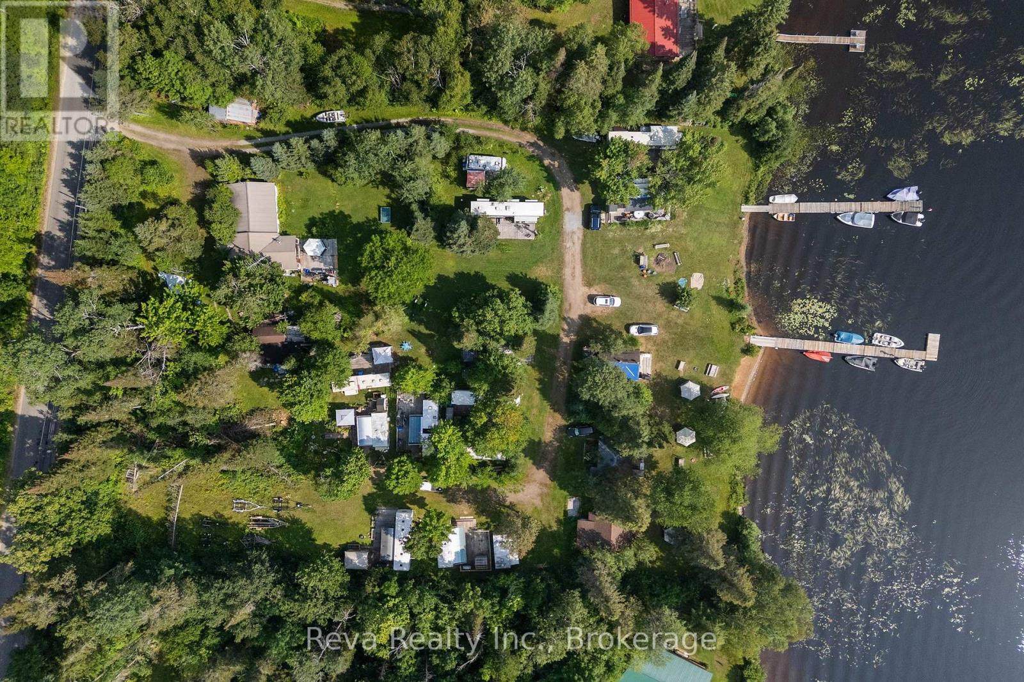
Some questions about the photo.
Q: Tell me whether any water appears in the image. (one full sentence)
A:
Yes, the picture does contain water.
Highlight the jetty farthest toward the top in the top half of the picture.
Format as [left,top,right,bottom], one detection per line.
[778,29,866,52]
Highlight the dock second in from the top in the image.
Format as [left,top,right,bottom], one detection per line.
[742,201,923,214]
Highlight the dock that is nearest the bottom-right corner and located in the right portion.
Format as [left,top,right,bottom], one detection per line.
[749,334,939,362]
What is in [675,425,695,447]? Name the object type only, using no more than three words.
gazebo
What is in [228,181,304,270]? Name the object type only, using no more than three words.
house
